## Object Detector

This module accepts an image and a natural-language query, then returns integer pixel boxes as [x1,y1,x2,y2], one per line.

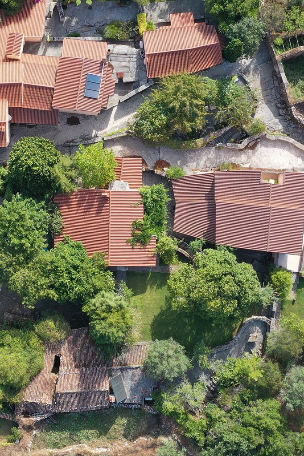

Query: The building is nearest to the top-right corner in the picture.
[139,11,227,80]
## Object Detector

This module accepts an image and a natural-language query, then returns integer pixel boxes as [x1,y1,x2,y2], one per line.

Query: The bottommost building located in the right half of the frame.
[168,170,304,273]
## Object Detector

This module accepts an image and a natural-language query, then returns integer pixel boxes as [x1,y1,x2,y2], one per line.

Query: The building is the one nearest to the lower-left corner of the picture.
[10,326,155,418]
